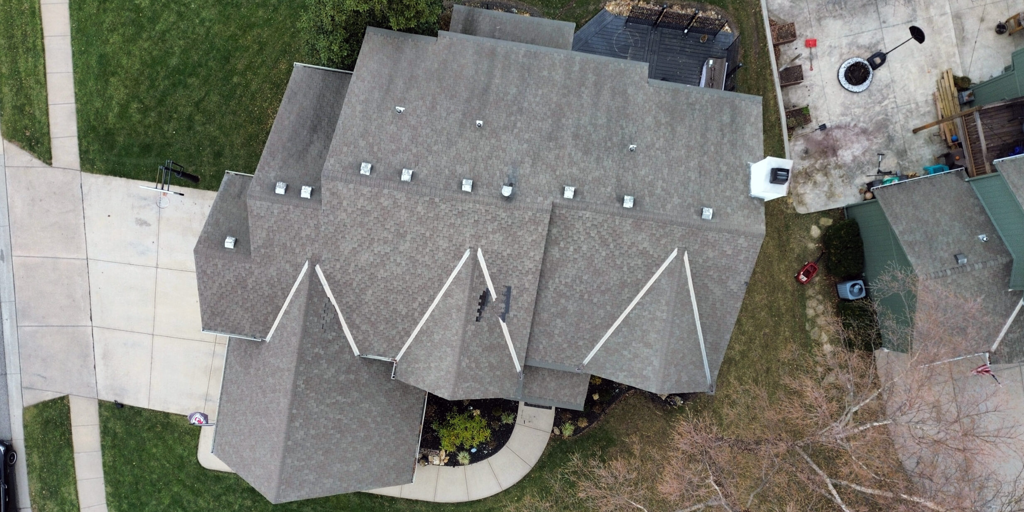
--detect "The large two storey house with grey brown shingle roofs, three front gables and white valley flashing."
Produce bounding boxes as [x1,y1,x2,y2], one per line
[194,3,795,504]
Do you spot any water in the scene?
No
